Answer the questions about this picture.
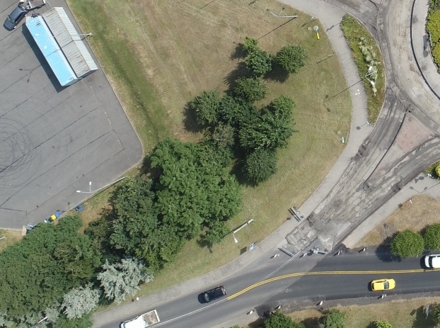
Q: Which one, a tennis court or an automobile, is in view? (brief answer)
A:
automobile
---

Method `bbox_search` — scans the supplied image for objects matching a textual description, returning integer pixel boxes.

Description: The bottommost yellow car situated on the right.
[370,278,396,291]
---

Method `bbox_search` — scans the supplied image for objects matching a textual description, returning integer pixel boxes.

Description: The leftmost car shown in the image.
[6,3,27,30]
